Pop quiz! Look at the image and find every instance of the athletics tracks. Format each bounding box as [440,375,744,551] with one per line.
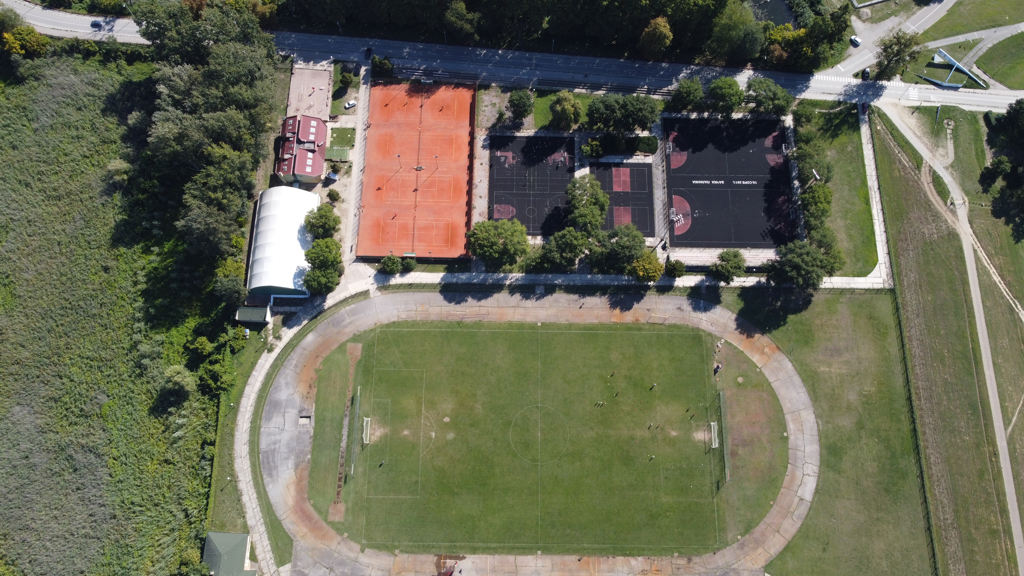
[259,292,820,576]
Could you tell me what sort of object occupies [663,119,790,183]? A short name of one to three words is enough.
sports court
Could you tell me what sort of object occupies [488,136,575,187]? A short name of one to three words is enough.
basketball court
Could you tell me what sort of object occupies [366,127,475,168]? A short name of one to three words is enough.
tennis court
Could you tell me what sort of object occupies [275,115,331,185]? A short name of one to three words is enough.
building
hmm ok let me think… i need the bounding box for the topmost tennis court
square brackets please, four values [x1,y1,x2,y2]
[368,85,477,128]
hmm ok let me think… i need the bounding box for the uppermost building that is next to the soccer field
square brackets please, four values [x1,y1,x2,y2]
[246,182,321,307]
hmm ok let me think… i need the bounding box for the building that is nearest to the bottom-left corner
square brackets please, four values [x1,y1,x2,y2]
[201,532,260,576]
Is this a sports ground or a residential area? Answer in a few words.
sports ground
